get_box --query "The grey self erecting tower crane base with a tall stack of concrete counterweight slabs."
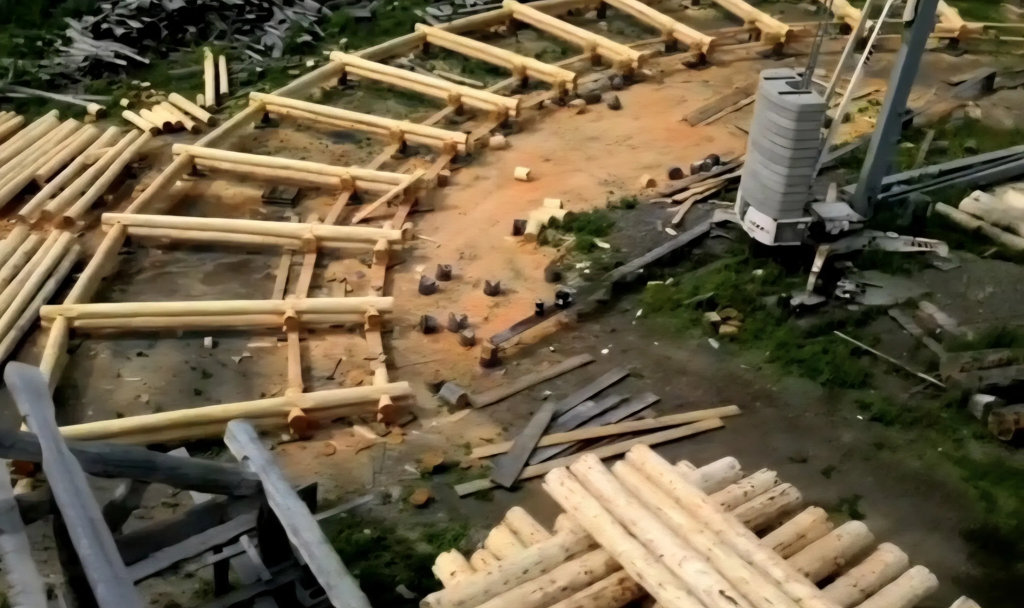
[708,0,959,307]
